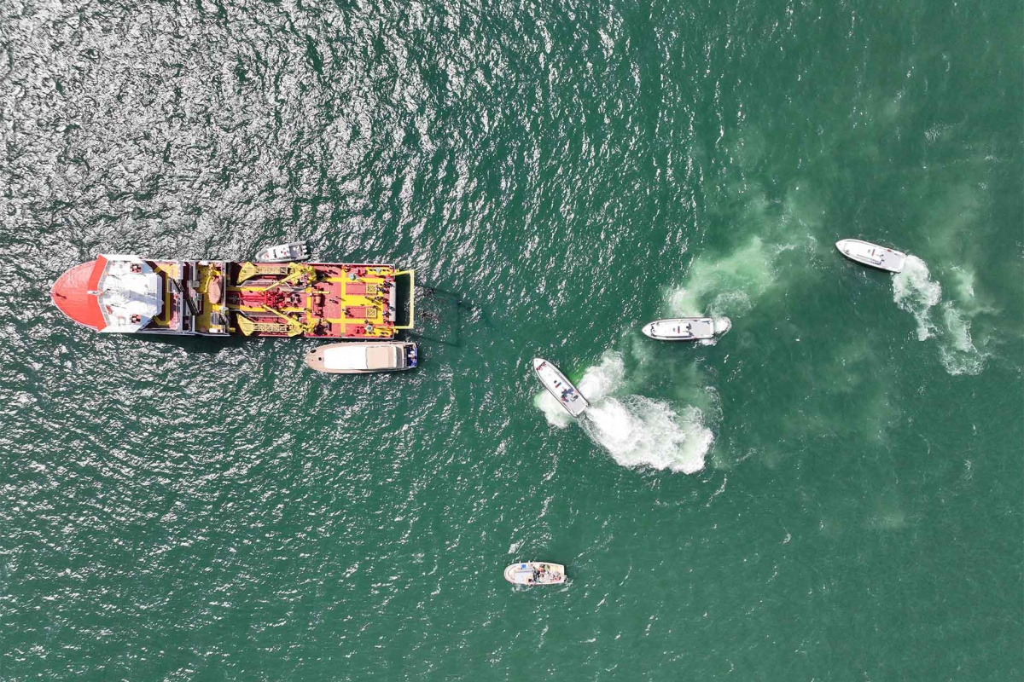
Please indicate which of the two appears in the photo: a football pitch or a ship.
ship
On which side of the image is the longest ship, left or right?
left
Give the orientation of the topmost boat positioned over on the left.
from left to right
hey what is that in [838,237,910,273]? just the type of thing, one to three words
boat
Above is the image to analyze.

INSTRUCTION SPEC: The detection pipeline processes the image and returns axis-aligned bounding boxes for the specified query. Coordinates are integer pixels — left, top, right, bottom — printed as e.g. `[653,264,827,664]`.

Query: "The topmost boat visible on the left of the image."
[252,241,308,262]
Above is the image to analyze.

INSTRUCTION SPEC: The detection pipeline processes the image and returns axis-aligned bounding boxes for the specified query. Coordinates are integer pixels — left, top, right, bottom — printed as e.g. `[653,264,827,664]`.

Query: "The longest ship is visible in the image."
[45,255,414,338]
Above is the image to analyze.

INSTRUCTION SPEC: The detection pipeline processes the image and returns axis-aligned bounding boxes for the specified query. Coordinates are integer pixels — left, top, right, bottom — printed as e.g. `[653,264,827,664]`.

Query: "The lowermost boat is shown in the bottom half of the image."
[504,562,567,585]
